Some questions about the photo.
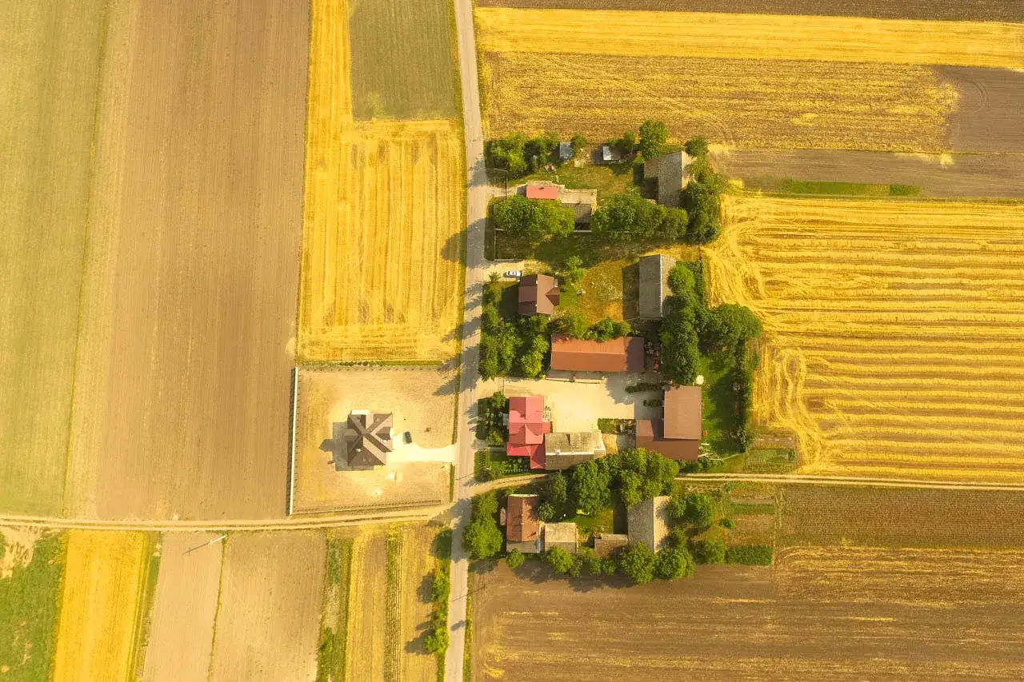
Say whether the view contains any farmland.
Yes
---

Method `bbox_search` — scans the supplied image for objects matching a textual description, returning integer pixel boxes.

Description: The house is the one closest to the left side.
[342,410,392,465]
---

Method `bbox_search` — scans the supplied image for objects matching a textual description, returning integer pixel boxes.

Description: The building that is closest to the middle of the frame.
[518,275,559,315]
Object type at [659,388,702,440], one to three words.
barn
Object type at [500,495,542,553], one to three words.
house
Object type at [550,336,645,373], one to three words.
barn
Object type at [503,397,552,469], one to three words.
house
